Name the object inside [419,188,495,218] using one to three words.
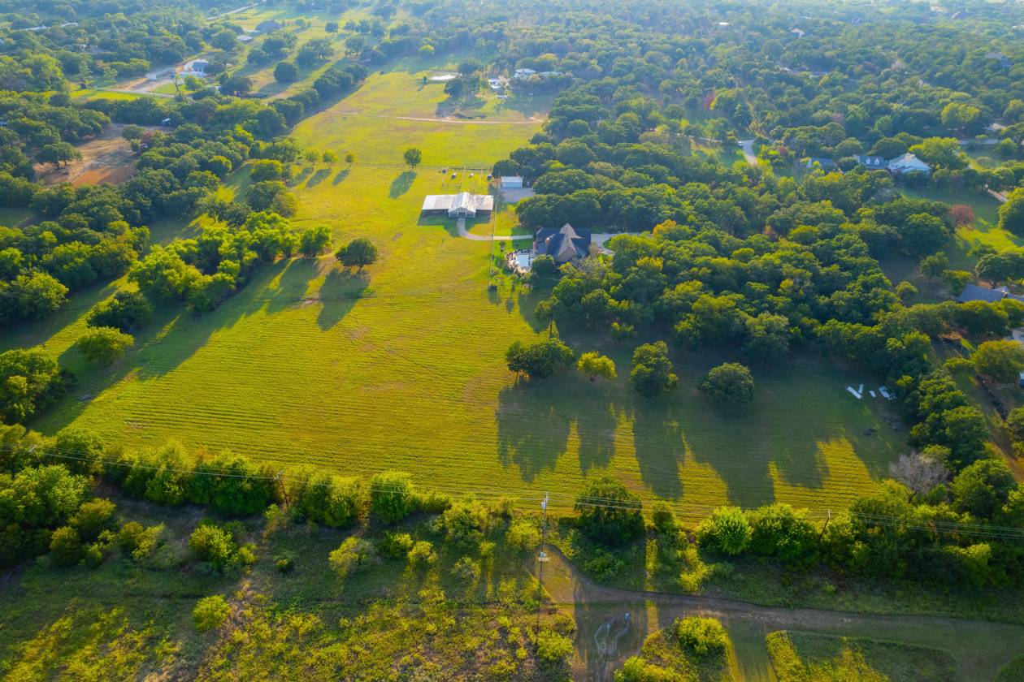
barn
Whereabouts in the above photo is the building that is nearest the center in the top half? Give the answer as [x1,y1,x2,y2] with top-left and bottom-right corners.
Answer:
[526,218,595,264]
